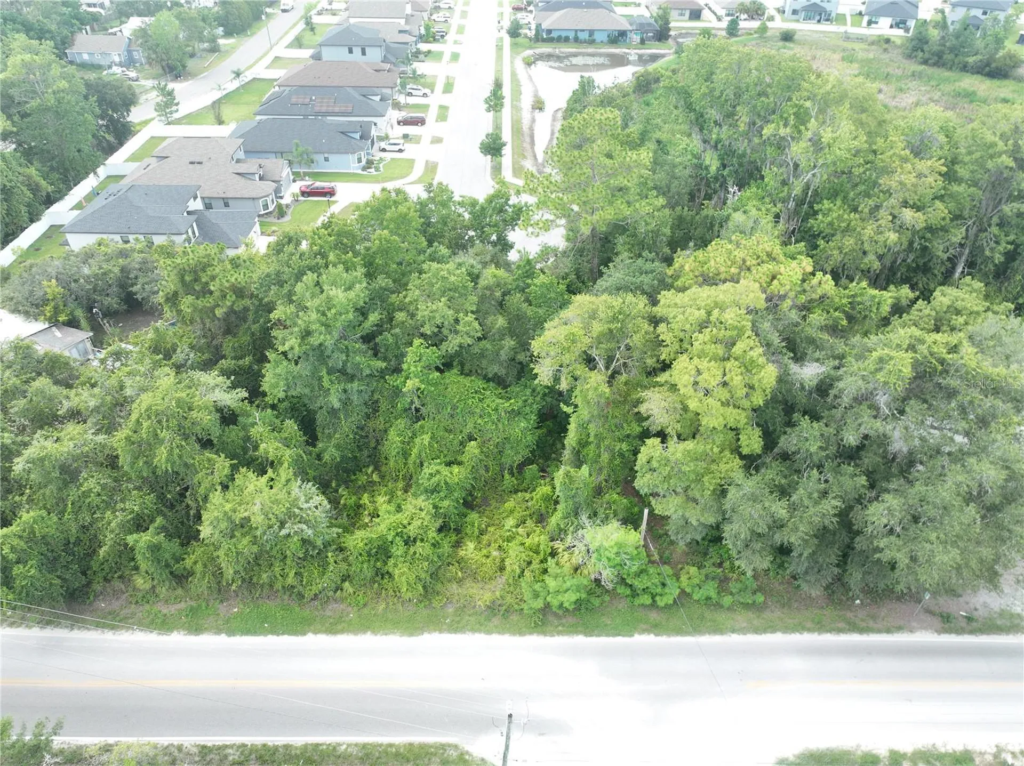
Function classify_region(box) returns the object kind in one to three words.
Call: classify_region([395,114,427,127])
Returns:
vehicle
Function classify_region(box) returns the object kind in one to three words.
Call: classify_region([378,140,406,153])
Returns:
vehicle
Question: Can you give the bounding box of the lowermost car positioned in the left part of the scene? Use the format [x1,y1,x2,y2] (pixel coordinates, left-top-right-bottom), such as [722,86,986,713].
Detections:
[300,183,337,200]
